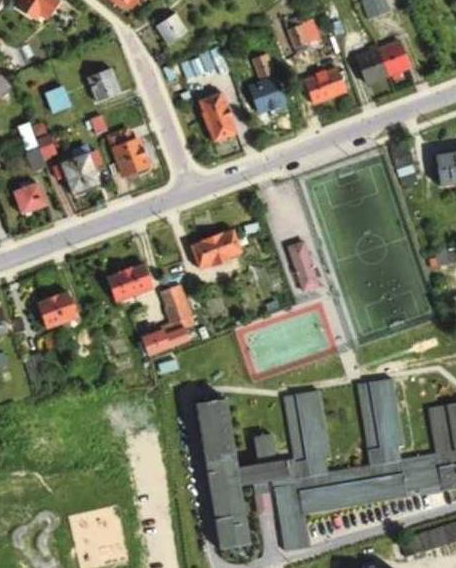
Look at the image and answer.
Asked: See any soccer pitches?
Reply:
Yes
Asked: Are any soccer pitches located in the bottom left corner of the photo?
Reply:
No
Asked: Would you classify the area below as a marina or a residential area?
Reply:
residential area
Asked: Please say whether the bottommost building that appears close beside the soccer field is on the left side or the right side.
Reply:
right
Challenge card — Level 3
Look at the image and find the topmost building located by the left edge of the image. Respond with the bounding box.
[17,0,60,25]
